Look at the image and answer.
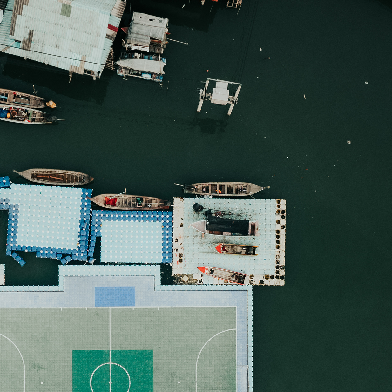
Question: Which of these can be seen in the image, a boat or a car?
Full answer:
Looking from above, you can make out a boat.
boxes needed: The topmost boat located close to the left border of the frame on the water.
[0,87,48,108]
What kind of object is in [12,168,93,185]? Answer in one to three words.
boat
